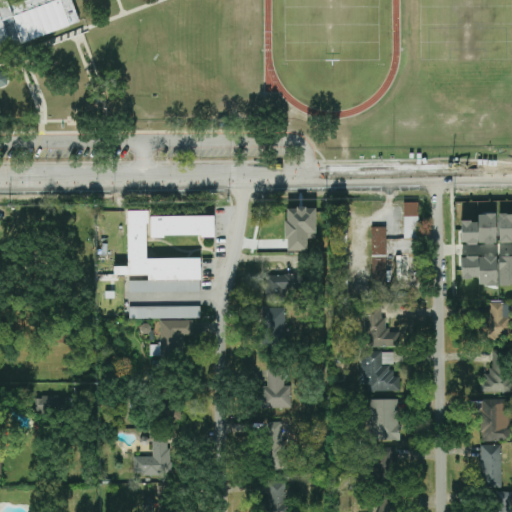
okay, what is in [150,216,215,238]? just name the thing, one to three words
building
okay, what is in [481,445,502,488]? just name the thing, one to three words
house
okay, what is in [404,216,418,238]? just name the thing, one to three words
shed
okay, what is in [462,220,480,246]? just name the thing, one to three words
house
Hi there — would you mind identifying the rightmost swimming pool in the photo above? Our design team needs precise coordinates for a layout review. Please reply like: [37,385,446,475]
[117,428,152,456]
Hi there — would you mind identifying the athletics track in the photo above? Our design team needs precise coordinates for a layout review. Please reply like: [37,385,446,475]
[264,0,400,118]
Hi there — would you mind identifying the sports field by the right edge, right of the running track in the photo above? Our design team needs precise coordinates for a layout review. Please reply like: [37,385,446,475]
[421,0,512,60]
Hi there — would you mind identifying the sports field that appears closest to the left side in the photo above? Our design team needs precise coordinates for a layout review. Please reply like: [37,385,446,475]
[285,0,380,60]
